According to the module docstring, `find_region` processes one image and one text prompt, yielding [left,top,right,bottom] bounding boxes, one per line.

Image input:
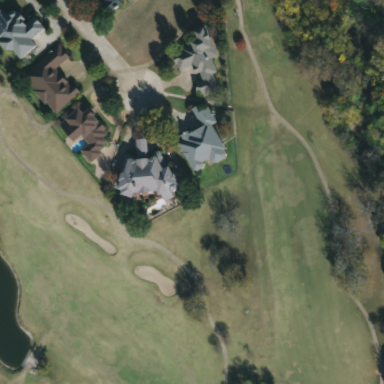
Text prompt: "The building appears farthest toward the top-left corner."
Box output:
[0,8,45,58]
